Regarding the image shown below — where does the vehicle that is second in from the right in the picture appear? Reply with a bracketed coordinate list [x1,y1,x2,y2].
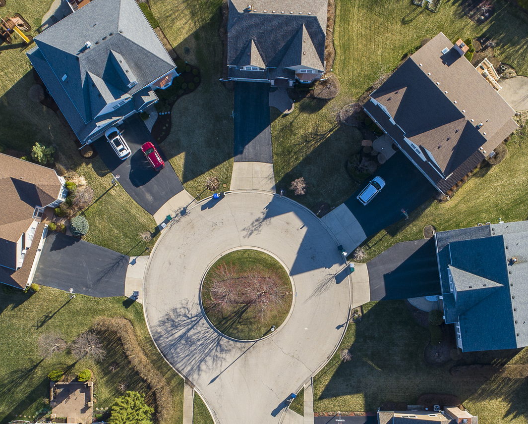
[141,139,164,173]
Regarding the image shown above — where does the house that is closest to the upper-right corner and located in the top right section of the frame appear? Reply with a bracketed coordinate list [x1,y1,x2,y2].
[362,31,519,196]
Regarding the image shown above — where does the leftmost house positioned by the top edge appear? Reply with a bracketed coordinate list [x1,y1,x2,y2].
[26,0,177,144]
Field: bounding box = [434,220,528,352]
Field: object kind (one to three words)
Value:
house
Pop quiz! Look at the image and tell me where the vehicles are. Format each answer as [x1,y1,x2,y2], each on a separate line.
[104,125,131,162]
[141,139,164,173]
[357,173,385,208]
